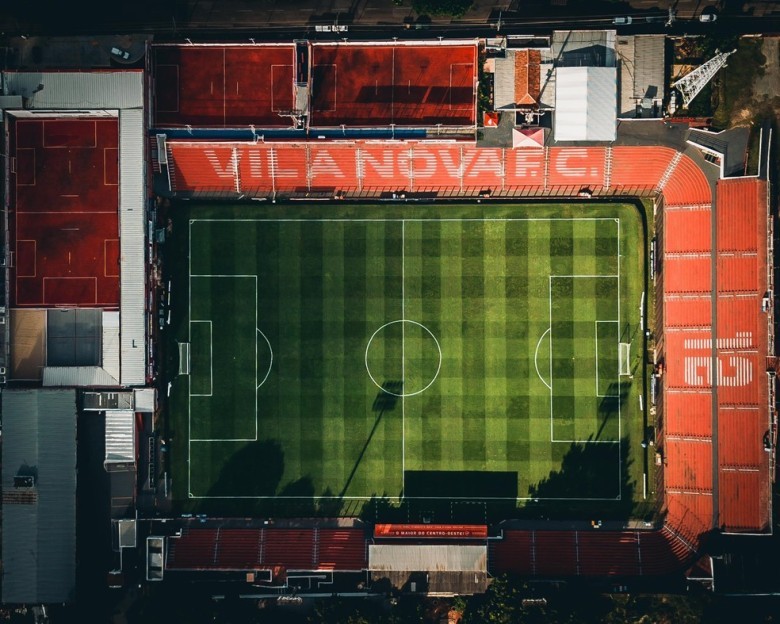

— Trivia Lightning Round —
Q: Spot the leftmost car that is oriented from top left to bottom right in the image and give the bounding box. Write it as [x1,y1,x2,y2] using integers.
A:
[110,44,130,60]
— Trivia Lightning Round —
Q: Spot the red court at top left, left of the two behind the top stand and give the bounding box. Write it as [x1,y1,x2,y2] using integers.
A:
[152,45,296,126]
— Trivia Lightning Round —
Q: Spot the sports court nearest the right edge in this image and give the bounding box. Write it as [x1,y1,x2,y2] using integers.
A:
[312,44,475,126]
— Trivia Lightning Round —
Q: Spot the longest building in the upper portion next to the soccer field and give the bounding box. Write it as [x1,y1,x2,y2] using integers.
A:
[5,71,152,385]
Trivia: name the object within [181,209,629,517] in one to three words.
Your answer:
soccer field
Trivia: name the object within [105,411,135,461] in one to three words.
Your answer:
building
